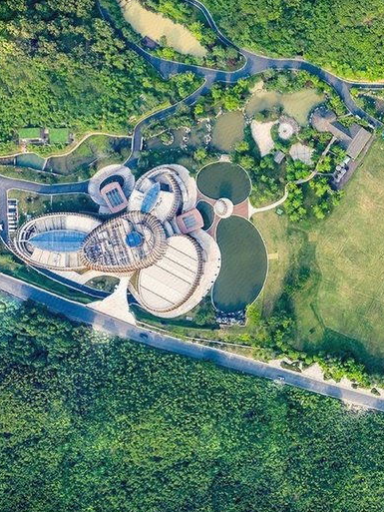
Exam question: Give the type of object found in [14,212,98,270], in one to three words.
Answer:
building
